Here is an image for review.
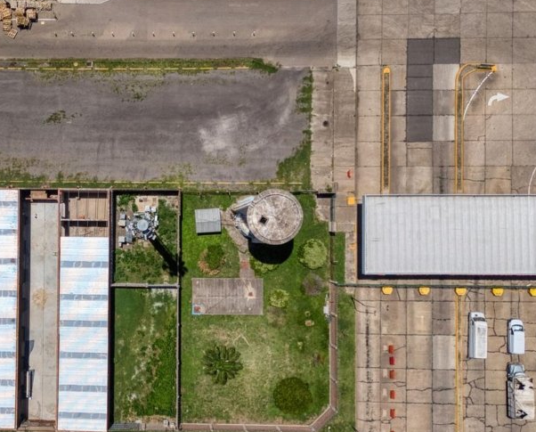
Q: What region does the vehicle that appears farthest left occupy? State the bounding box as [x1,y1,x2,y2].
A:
[469,311,488,359]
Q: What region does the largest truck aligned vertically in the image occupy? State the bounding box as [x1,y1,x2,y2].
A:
[509,362,533,423]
